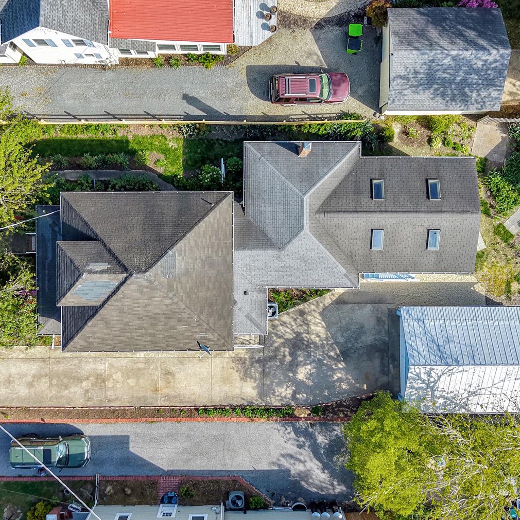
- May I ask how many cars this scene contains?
2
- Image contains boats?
No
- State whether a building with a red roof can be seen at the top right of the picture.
No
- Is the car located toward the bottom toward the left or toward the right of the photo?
left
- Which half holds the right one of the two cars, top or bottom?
top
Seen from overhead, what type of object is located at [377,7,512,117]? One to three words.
building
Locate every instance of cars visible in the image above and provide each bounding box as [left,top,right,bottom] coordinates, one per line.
[10,429,93,471]
[268,69,350,108]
